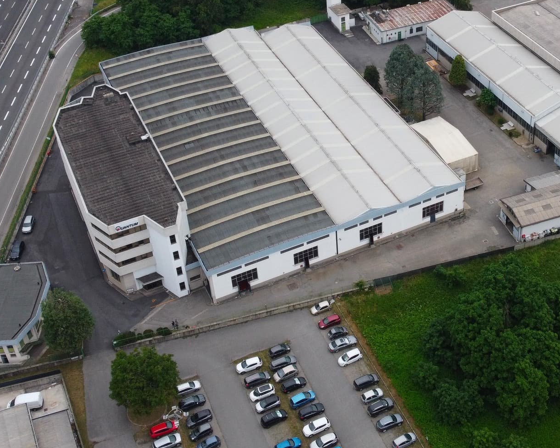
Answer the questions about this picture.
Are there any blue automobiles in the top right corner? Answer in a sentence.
No, the scene shows no blue automobile in the top right corner.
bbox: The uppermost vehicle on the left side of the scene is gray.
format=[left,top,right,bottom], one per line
[20,216,35,233]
